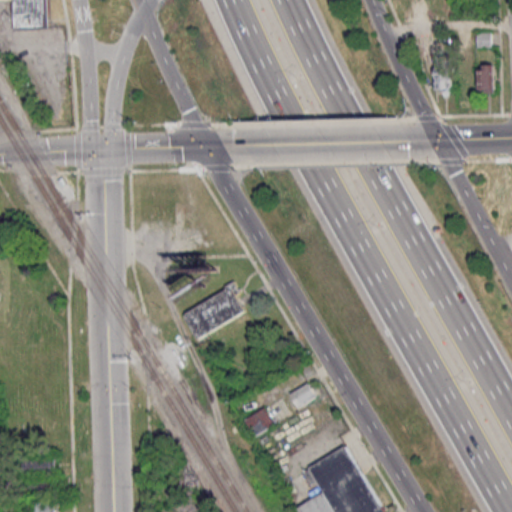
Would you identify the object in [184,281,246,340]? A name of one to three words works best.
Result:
building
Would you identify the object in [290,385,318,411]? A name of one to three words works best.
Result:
shed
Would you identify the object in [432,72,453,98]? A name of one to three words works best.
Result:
house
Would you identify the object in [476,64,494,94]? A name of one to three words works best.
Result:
house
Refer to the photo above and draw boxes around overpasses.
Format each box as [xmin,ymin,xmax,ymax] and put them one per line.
[204,116,442,168]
